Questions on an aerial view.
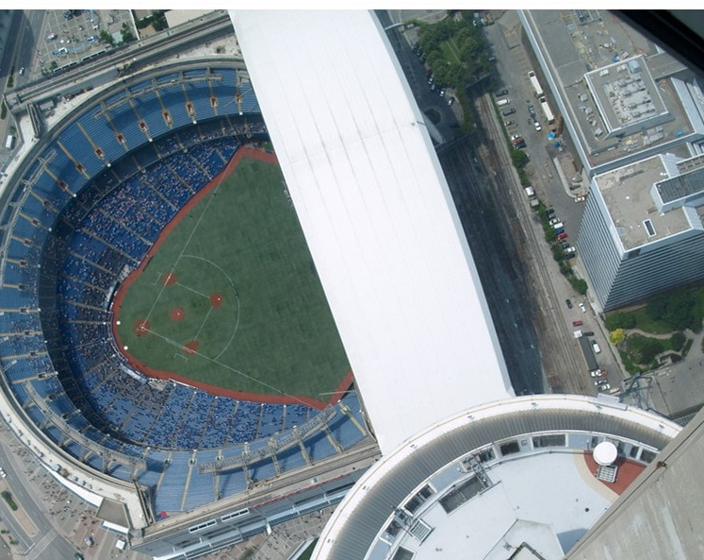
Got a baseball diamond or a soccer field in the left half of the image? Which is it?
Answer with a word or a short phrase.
baseball diamond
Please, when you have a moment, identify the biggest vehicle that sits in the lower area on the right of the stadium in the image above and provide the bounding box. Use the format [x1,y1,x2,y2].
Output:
[576,329,600,371]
